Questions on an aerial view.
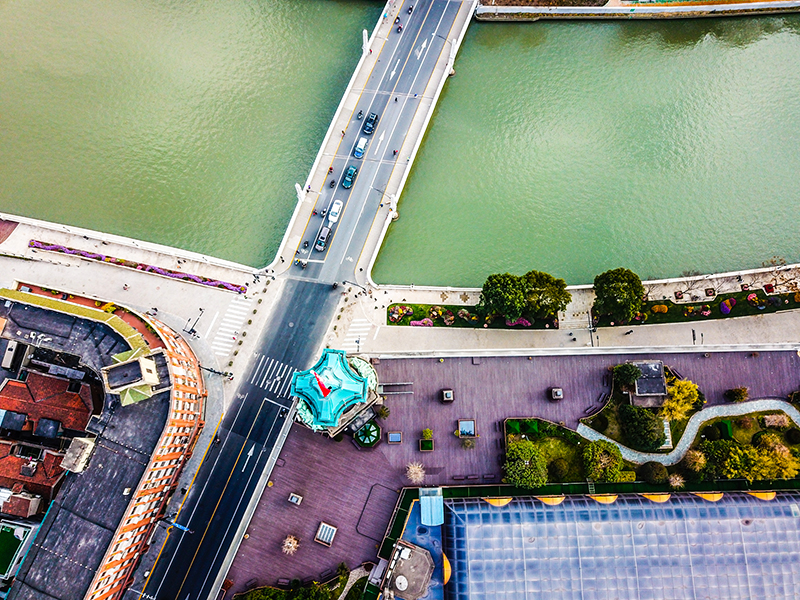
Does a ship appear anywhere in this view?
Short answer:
No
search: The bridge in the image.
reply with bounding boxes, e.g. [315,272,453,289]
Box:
[272,0,479,287]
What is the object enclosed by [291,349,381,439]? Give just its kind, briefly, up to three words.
building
